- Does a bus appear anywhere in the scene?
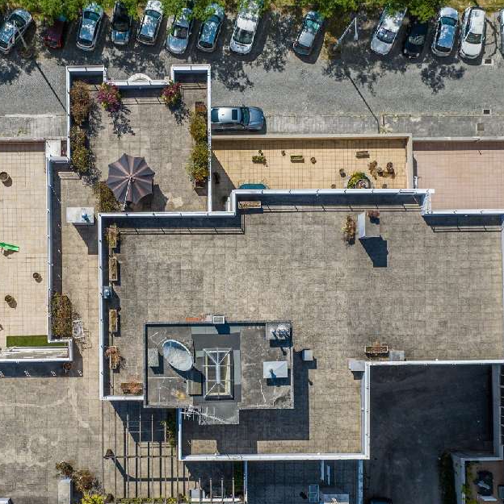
No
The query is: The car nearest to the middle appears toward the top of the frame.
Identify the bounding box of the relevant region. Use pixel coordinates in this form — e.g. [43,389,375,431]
[212,104,269,133]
